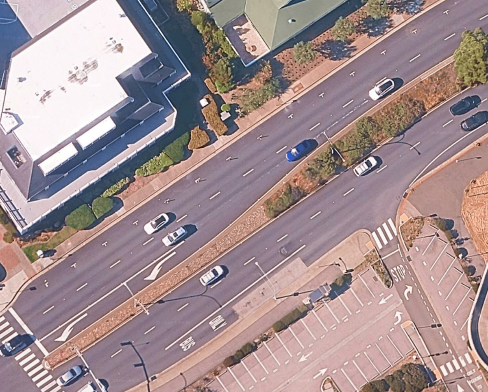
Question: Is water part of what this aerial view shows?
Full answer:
No, there's no water in this view.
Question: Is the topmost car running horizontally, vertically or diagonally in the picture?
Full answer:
In this picture, the topmost car lies diagonally.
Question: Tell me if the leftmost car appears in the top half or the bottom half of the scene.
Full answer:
The bottom half of the photo is where the leftmost car is.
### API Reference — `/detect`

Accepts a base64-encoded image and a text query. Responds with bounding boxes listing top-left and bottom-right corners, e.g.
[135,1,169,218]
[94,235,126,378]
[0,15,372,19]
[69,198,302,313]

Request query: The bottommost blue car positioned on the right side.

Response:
[286,138,315,161]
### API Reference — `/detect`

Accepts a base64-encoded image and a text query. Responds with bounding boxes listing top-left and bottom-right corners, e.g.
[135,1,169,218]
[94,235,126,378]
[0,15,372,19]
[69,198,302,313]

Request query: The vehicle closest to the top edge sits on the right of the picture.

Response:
[367,76,396,100]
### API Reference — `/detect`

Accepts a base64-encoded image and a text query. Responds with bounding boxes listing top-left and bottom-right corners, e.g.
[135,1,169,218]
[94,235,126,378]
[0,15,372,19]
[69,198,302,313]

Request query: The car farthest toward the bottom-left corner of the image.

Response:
[0,335,27,360]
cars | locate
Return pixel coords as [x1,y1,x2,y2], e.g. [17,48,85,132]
[0,335,27,360]
[462,109,488,132]
[367,76,396,100]
[160,224,188,248]
[286,138,315,161]
[352,154,380,178]
[197,264,226,287]
[55,365,84,388]
[142,211,172,236]
[451,93,481,117]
